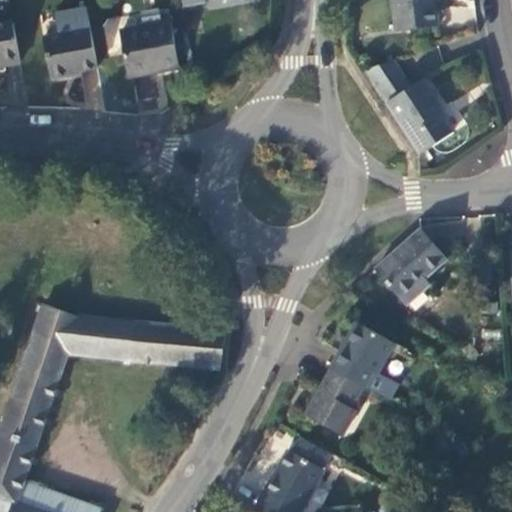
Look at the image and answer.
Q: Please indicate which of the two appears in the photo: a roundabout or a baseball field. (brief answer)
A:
roundabout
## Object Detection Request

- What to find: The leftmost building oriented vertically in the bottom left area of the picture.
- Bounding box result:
[0,302,79,508]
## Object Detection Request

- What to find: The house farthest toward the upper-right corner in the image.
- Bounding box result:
[390,0,441,30]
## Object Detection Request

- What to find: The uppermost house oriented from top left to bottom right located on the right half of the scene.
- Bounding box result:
[368,52,453,158]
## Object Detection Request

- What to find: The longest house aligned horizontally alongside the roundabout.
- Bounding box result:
[53,312,224,372]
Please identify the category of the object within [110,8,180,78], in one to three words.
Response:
house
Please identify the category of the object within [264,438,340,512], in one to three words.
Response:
house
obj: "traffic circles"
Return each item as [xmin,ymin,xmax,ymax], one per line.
[199,97,369,267]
